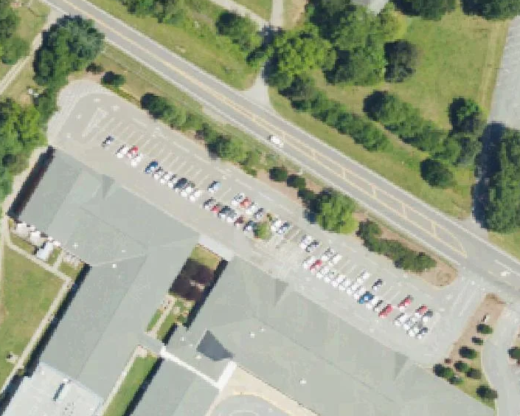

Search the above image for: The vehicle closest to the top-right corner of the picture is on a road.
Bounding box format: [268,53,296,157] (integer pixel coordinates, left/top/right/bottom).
[266,134,282,146]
